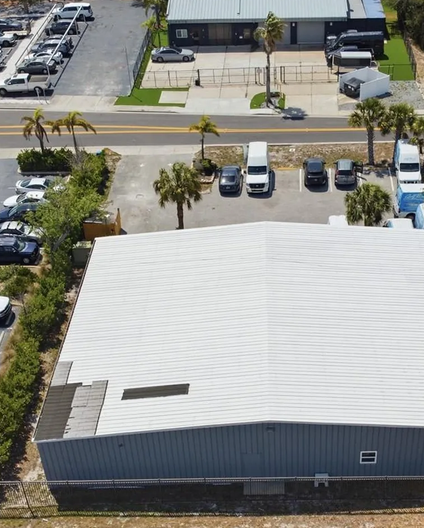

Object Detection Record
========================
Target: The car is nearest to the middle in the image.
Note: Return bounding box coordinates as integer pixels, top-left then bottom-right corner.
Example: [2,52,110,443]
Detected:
[214,162,239,190]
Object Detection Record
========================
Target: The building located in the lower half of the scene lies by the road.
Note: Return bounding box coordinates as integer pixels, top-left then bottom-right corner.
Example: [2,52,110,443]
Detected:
[27,222,424,487]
